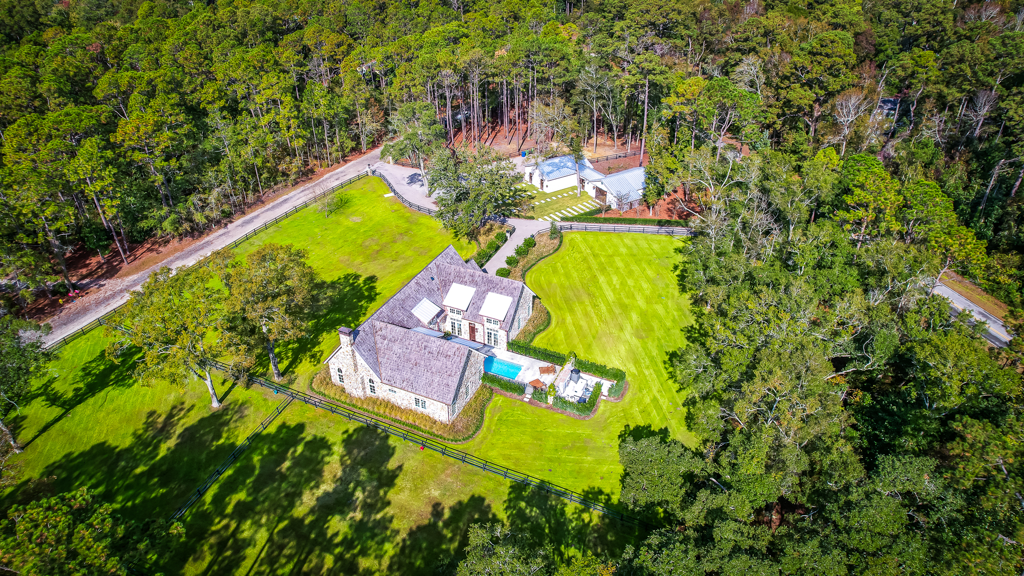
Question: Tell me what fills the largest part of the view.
trees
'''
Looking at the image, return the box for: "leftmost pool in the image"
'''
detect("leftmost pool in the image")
[477,352,525,380]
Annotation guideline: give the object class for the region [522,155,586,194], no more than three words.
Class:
building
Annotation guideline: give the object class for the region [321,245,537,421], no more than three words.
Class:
house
